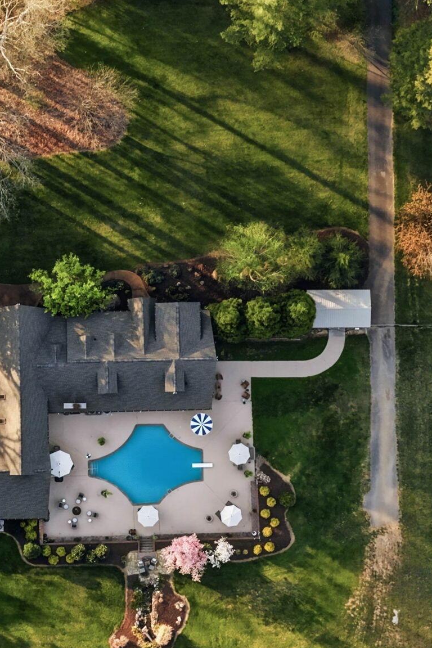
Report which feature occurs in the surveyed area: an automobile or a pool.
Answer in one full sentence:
Looking from above, you can make out a pool.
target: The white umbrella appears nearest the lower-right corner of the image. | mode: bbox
[219,504,241,525]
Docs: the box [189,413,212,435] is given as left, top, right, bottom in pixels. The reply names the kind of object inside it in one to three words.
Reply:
umbrella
